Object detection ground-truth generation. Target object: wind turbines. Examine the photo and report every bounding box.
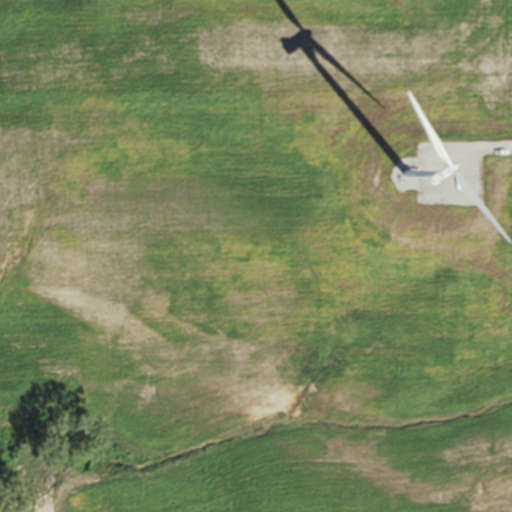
[394,90,512,240]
